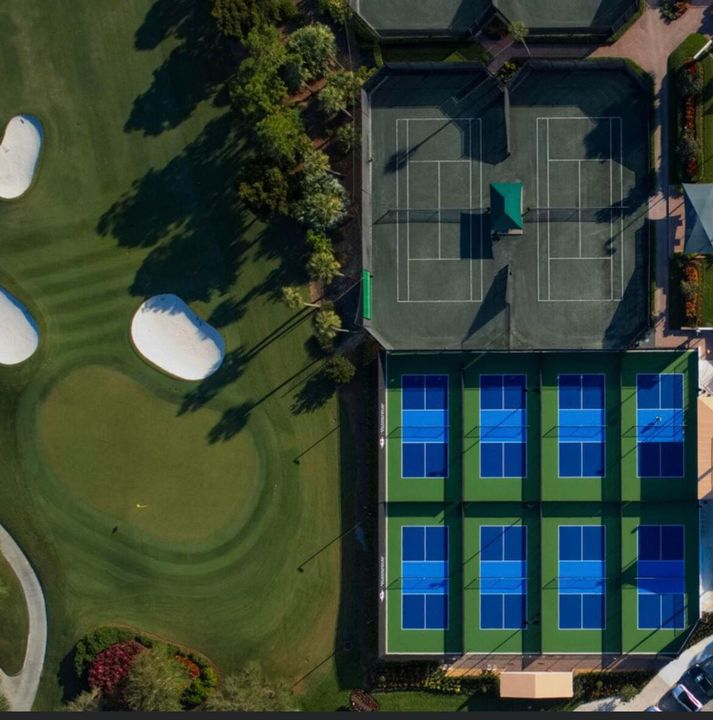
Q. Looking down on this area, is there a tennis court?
Yes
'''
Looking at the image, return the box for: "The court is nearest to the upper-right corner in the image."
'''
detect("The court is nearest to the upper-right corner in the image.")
[494,0,635,26]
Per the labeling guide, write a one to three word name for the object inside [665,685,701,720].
car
